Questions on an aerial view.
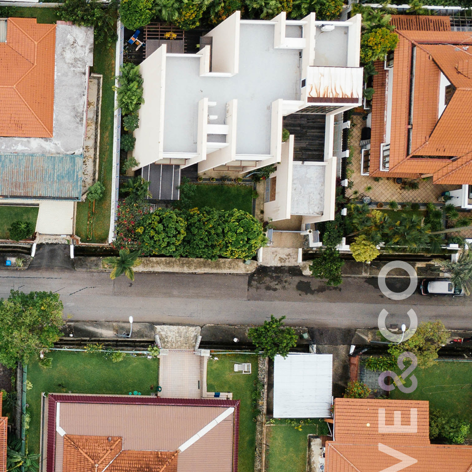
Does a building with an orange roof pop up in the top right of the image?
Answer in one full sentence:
Yes, a building with an orange roof is visible in the top right of the image.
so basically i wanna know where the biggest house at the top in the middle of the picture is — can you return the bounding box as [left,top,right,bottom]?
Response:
[130,11,363,225]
